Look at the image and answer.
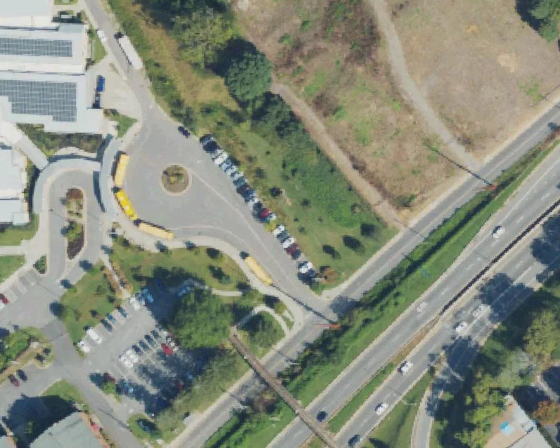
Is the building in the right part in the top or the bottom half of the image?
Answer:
bottom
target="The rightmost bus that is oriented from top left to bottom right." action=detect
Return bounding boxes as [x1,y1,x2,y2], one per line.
[245,256,273,285]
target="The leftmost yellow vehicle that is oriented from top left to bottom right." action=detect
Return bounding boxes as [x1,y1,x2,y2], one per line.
[114,189,136,220]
